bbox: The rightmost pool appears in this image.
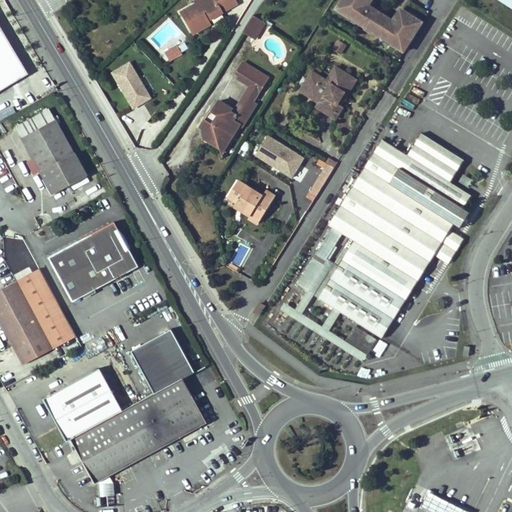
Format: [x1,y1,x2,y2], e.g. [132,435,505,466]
[250,34,288,64]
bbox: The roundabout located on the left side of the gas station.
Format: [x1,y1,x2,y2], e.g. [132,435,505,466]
[254,394,366,506]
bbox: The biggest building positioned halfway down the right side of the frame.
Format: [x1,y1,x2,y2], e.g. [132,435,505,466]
[318,140,470,338]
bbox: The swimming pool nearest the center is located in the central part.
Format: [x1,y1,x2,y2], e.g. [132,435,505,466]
[231,242,252,268]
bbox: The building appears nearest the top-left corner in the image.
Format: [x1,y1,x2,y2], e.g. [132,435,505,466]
[0,25,28,92]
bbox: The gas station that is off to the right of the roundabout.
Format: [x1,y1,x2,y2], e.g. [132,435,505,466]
[419,490,478,512]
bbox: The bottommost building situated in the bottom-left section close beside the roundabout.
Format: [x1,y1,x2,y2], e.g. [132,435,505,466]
[72,380,207,482]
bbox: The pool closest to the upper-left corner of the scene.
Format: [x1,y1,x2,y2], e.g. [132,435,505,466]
[147,18,187,60]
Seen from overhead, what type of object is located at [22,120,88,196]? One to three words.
building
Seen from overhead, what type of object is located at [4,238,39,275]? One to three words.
shed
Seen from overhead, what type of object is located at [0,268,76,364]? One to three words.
building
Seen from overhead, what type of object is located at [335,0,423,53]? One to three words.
house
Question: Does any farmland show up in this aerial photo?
No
